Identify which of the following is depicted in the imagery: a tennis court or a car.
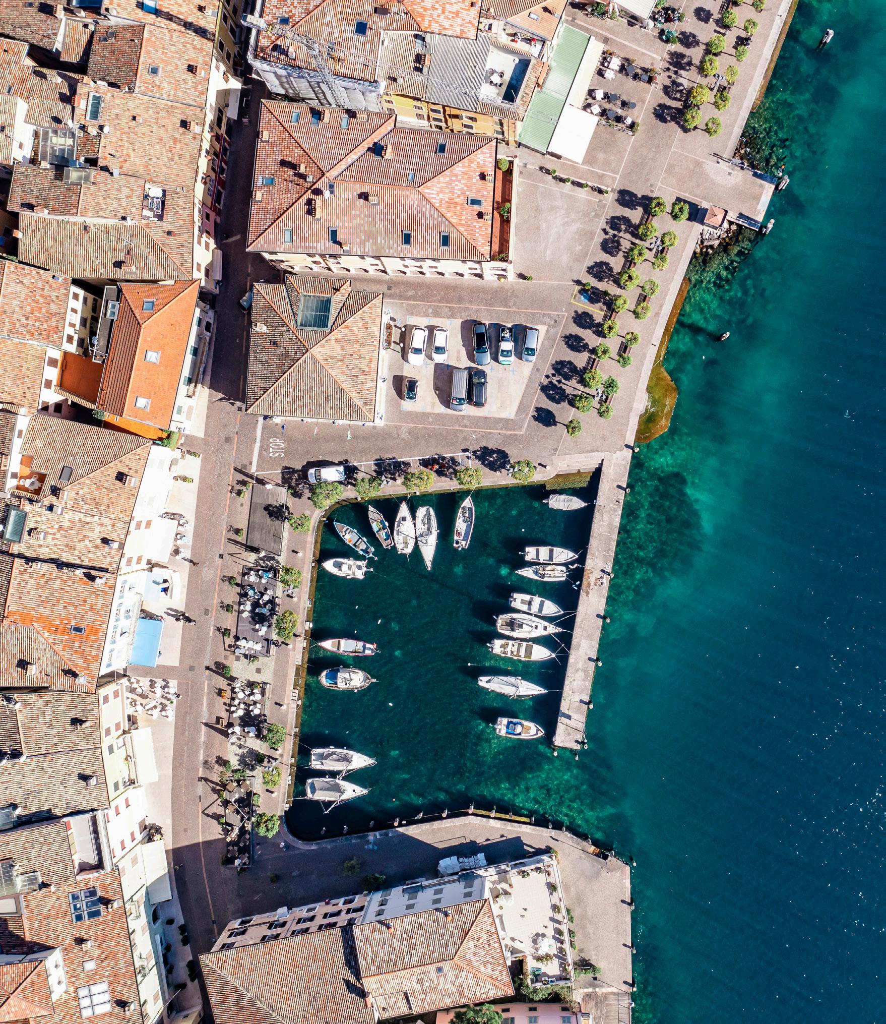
car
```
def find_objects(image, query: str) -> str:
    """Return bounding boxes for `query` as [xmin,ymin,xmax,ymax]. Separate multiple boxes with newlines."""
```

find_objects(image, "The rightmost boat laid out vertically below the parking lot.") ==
[451,491,474,553]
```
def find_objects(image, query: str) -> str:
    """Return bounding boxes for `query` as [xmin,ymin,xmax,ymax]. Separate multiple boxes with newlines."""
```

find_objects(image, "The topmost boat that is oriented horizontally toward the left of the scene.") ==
[314,559,373,581]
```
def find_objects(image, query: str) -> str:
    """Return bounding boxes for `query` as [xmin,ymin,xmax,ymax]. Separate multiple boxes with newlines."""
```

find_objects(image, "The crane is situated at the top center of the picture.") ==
[236,7,545,121]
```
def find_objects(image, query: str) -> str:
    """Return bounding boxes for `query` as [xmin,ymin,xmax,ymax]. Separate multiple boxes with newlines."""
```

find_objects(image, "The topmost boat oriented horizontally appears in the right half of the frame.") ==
[543,494,588,510]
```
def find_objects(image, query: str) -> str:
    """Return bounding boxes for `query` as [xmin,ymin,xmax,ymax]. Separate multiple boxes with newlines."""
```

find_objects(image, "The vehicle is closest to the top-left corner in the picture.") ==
[238,279,254,311]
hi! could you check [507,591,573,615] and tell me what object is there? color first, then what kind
white boat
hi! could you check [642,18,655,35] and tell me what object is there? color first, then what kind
white umbrella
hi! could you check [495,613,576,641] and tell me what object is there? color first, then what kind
white boat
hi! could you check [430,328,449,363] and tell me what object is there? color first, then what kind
white car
